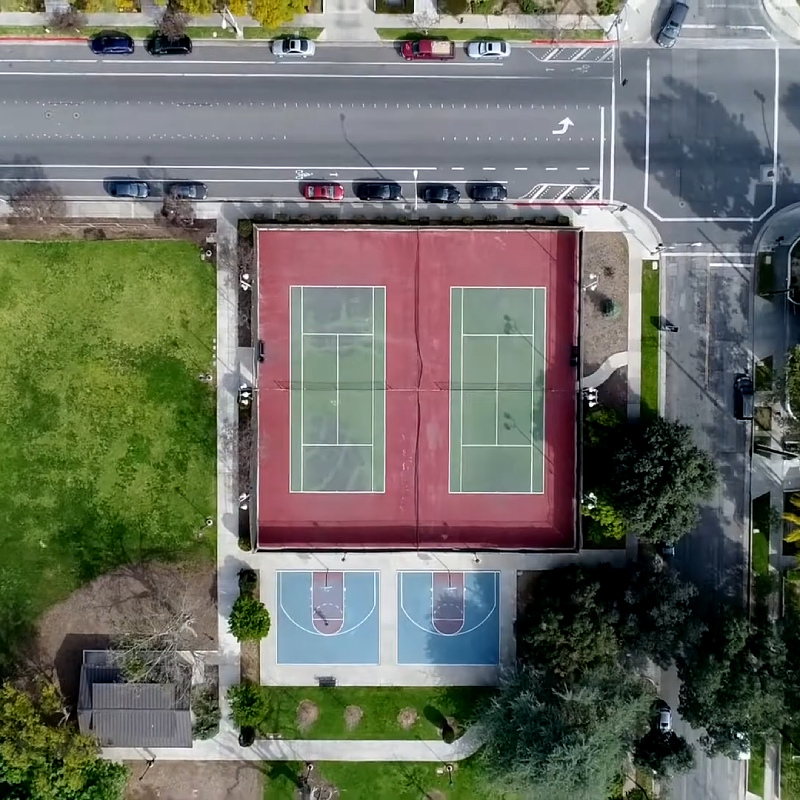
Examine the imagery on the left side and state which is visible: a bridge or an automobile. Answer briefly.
automobile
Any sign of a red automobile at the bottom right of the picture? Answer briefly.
No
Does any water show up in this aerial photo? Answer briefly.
No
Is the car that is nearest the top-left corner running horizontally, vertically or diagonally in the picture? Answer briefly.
horizontally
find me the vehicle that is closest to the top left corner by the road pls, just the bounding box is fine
[92,31,134,52]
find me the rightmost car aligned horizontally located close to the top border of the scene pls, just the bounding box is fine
[467,38,510,59]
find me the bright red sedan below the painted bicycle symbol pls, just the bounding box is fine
[305,181,344,200]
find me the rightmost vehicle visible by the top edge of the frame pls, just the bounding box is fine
[658,0,691,45]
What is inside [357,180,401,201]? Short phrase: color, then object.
black car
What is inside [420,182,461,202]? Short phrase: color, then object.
black car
